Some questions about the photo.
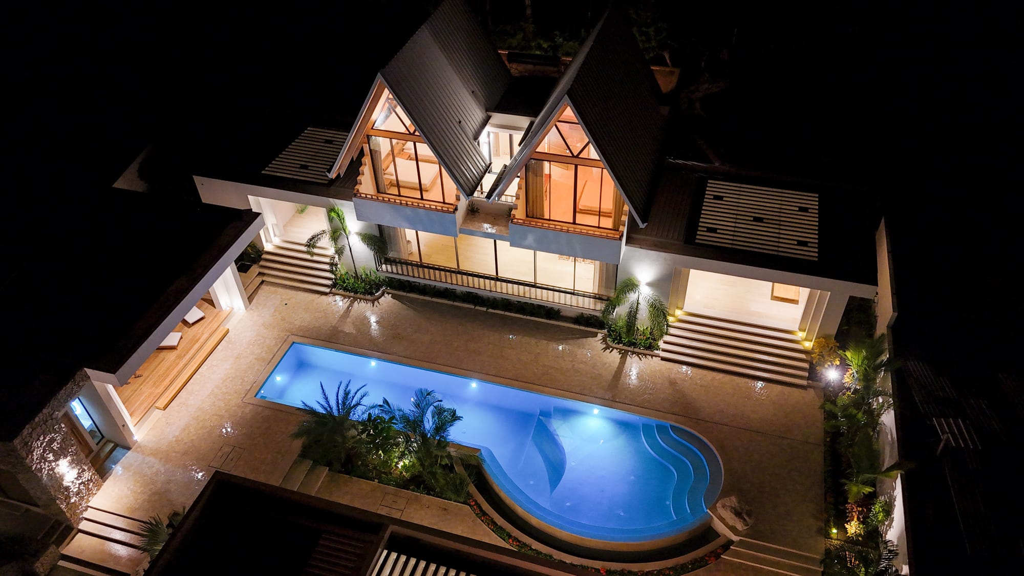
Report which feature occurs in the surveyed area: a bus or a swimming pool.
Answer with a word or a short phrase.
swimming pool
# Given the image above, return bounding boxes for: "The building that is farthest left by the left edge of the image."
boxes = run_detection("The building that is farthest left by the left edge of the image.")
[0,176,265,539]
